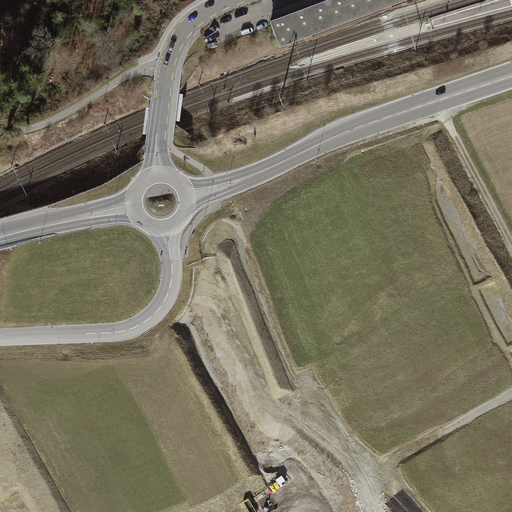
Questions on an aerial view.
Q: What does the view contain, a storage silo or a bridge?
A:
bridge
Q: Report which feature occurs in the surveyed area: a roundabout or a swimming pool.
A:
roundabout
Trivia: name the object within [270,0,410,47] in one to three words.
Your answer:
building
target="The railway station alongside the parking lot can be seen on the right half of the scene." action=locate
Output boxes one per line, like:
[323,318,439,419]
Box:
[289,0,512,68]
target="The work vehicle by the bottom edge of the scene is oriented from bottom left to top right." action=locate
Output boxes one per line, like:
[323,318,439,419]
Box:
[256,478,286,512]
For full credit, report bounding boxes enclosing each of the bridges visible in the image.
[144,68,190,157]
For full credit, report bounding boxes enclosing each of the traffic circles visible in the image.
[88,146,231,260]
